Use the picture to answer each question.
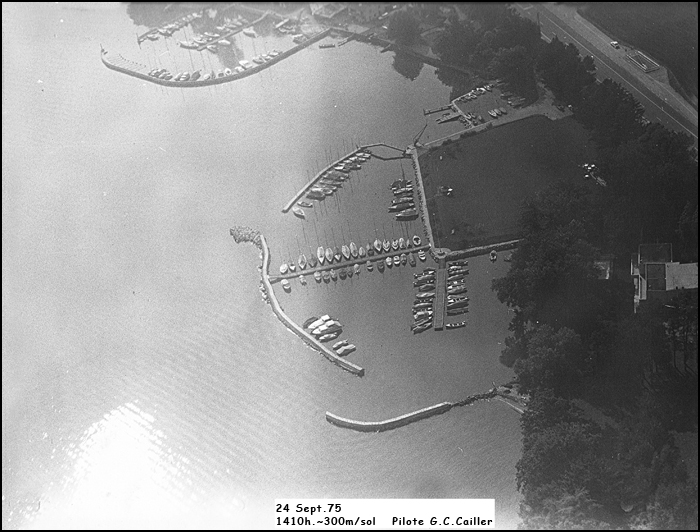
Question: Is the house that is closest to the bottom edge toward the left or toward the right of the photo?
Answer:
right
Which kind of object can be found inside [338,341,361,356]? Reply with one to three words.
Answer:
boat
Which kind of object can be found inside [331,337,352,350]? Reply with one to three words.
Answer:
boat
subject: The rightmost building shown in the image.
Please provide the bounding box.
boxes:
[631,243,700,308]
